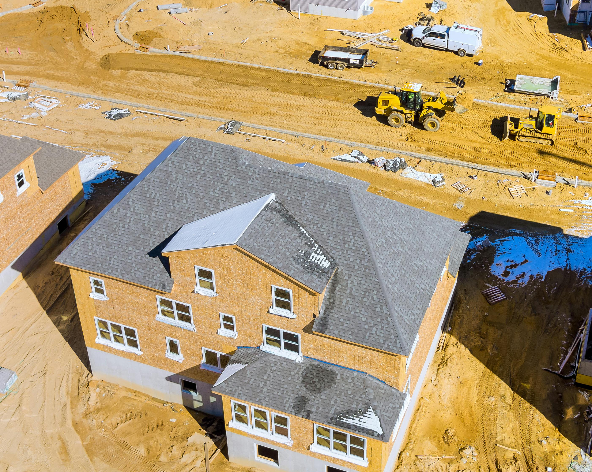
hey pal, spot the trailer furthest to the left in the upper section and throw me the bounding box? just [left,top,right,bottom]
[320,45,383,71]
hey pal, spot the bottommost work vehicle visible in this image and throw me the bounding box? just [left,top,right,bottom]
[509,106,557,146]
